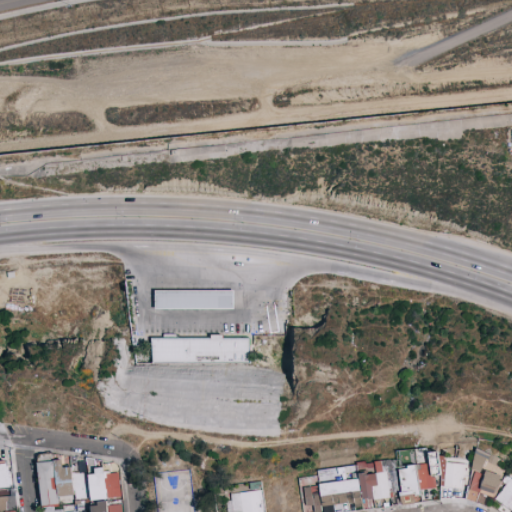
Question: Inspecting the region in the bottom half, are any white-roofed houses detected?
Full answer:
Yes, a white-roofed house shows up in the bottom half.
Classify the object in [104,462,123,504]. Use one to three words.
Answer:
house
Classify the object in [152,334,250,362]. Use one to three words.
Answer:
building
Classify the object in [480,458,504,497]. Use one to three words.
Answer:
house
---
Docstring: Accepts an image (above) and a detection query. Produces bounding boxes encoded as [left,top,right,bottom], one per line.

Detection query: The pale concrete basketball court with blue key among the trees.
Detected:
[155,470,194,512]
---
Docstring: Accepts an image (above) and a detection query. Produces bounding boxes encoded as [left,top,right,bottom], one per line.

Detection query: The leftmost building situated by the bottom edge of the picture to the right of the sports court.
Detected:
[228,480,264,512]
